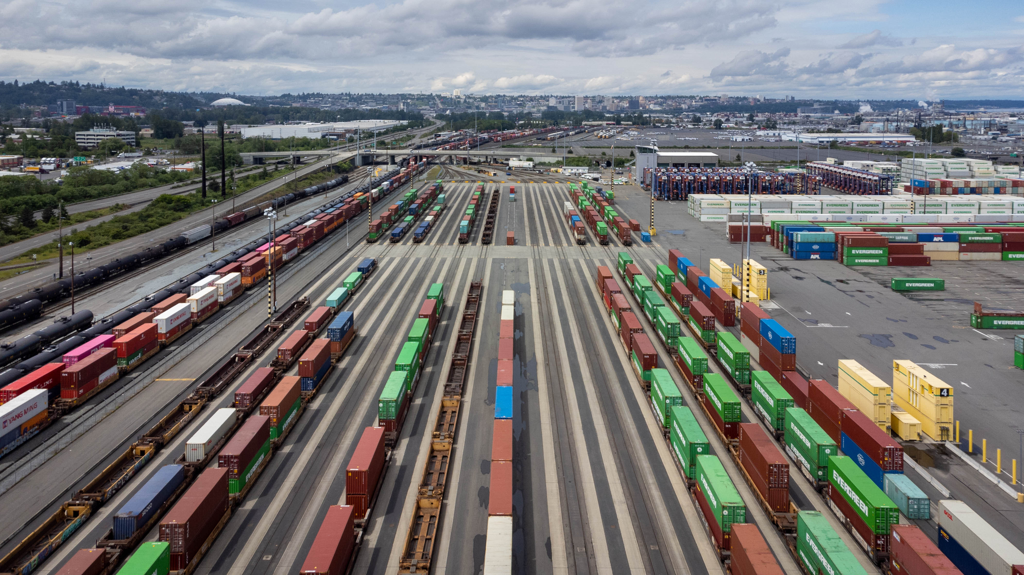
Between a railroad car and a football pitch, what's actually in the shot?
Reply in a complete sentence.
Visible in the photo is a railroad car.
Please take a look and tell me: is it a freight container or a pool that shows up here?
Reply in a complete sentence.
This aerial view contains a freight container.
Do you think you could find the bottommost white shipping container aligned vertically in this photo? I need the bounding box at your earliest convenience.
[484,517,512,575]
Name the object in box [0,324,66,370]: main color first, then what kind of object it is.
black rail car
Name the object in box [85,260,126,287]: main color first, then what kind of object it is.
black rail car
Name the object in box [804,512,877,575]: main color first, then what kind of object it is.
green shipping container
